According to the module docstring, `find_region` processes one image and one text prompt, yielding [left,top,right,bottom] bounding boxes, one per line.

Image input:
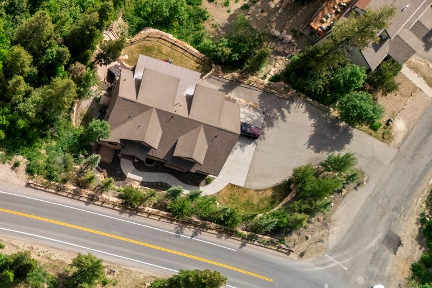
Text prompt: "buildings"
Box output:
[96,54,240,178]
[338,0,432,76]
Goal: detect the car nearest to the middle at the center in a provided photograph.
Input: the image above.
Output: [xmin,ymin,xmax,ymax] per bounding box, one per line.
[240,122,265,140]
